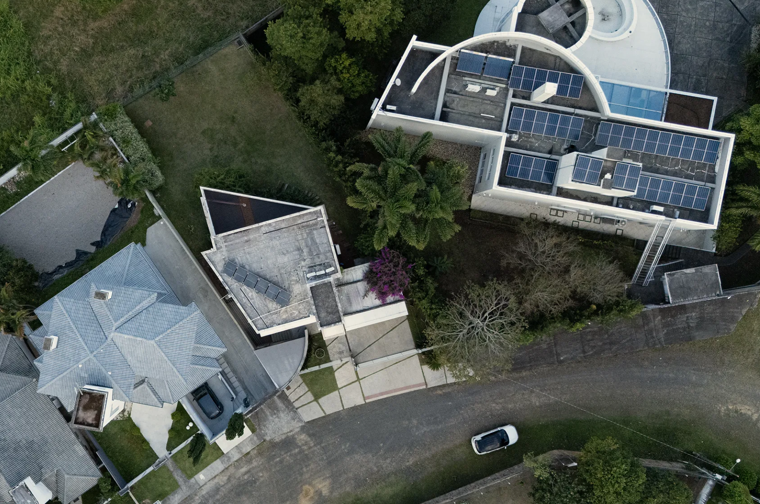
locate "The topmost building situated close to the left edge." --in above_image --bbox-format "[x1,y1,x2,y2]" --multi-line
[29,243,227,409]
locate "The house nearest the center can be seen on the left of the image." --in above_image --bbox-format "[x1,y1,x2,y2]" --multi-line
[198,186,408,340]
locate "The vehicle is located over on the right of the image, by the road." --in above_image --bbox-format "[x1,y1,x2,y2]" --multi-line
[470,423,520,457]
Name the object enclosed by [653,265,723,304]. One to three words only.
shed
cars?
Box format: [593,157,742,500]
[470,423,520,457]
[192,380,227,427]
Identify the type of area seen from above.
residential area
